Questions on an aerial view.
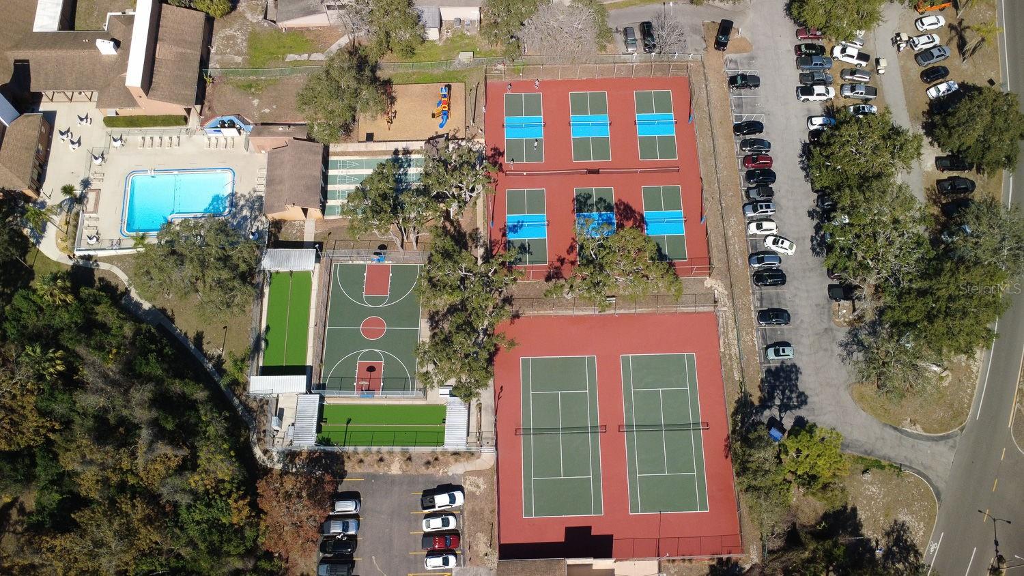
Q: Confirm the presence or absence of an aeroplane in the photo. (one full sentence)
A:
No, the photo shows no aeroplane.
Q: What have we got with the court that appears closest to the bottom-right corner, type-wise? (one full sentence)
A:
It turns out the court that appears closest to the bottom-right corner is a tennis court.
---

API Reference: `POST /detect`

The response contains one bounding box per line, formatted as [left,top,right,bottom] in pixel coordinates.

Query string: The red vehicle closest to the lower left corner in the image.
[421,533,459,551]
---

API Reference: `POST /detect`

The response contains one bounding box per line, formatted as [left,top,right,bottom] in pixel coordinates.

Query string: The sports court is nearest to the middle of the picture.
[506,188,549,266]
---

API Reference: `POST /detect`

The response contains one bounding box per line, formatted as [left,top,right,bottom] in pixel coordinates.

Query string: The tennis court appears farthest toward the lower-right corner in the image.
[620,353,709,514]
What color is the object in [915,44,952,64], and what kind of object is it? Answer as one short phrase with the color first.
gray vehicle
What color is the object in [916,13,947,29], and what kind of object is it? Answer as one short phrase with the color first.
white car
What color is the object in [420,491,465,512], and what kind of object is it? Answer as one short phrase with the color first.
white truck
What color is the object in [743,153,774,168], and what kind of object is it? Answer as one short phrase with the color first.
red car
